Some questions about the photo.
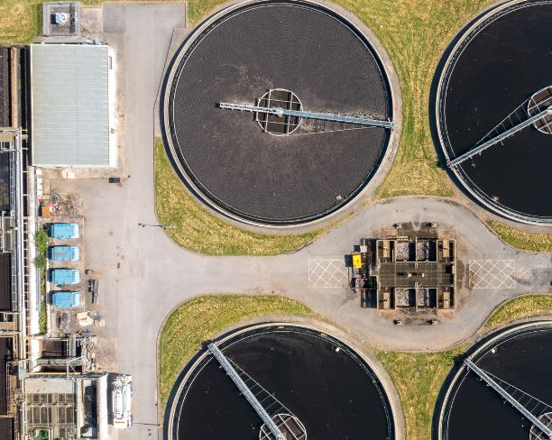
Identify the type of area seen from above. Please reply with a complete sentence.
What you see here is an industrial area.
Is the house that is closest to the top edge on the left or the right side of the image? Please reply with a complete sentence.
The house that is closest to the top edge is on the left side of the image.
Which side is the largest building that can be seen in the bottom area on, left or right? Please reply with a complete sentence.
The largest building that can be seen in the bottom area is on the right side of the image.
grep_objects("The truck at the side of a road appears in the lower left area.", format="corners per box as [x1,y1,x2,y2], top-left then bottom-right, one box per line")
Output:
[114,373,136,428]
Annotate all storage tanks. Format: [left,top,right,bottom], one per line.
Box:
[429,310,552,440]
[164,313,407,440]
[160,0,403,235]
[429,0,552,233]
